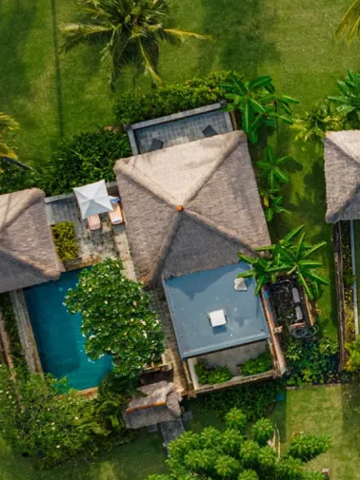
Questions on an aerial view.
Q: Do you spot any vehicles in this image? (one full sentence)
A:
No, I can see no vehicle in this picture.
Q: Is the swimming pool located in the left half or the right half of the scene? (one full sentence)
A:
The swimming pool is on the left side of the image.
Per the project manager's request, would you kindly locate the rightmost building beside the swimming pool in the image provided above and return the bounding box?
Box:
[117,131,294,402]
